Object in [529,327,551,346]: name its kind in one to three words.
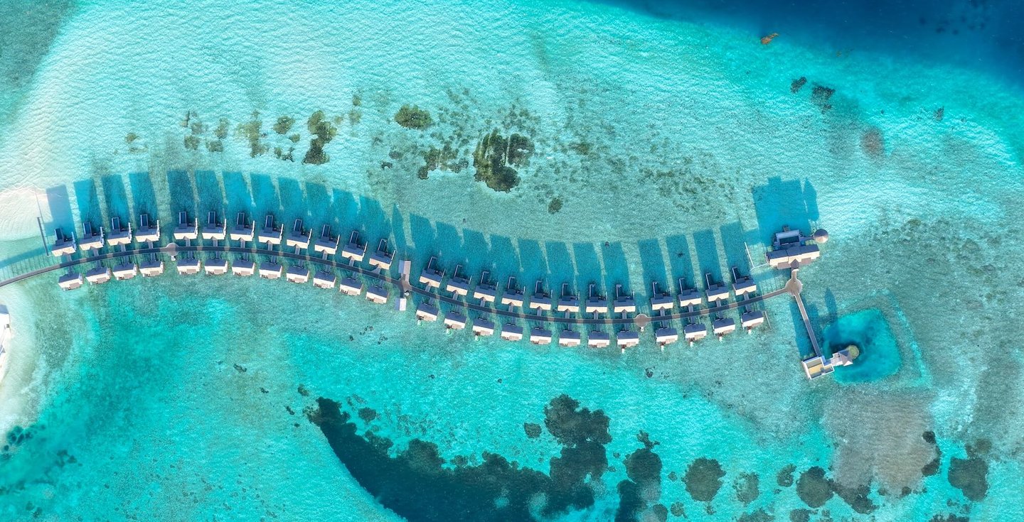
house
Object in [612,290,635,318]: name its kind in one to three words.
house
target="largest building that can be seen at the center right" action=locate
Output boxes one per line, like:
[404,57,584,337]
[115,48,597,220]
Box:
[762,226,819,270]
